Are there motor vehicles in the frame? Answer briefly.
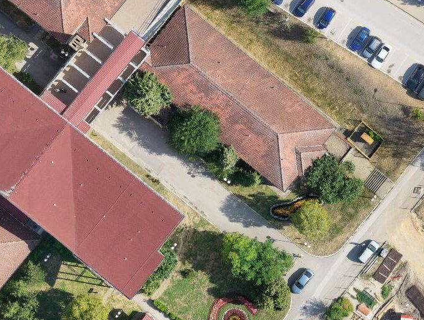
Yes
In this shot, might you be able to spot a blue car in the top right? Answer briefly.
Yes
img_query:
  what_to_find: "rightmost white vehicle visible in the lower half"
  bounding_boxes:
[359,239,380,265]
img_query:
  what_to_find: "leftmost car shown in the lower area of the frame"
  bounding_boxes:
[292,267,312,294]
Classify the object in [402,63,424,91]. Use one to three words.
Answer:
truck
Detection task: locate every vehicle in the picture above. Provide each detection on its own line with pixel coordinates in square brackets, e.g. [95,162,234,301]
[293,0,312,18]
[402,63,424,91]
[292,267,312,294]
[271,0,284,6]
[359,239,380,265]
[359,35,382,60]
[348,26,370,51]
[318,6,336,29]
[369,44,392,69]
